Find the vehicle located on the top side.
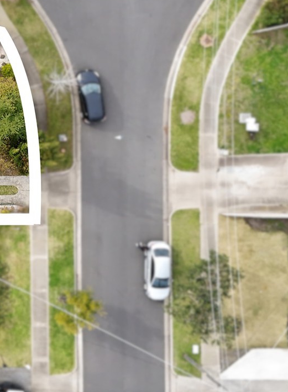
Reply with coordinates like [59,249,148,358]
[75,68,107,124]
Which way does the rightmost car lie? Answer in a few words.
vertically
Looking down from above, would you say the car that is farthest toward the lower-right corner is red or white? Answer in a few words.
white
